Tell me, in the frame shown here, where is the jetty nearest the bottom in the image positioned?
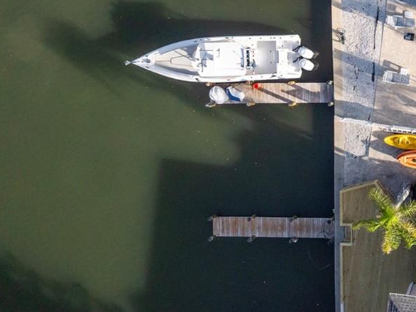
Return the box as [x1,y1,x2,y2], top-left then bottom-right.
[209,211,335,243]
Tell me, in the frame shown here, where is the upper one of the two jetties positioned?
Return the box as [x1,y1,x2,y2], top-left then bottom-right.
[206,80,334,108]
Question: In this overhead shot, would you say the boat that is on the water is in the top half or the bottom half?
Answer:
top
